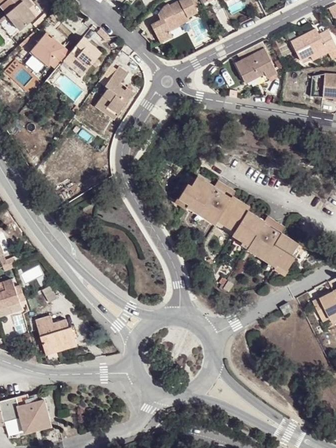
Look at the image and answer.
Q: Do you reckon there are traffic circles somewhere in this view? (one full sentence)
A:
Yes, the image includes a traffic circle.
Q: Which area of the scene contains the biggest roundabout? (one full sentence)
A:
Look in the bottom portion of the view to spot the biggest roundabout.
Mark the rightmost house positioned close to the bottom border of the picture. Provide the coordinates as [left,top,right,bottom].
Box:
[16,396,52,437]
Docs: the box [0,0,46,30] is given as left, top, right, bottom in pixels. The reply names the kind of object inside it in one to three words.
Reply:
house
